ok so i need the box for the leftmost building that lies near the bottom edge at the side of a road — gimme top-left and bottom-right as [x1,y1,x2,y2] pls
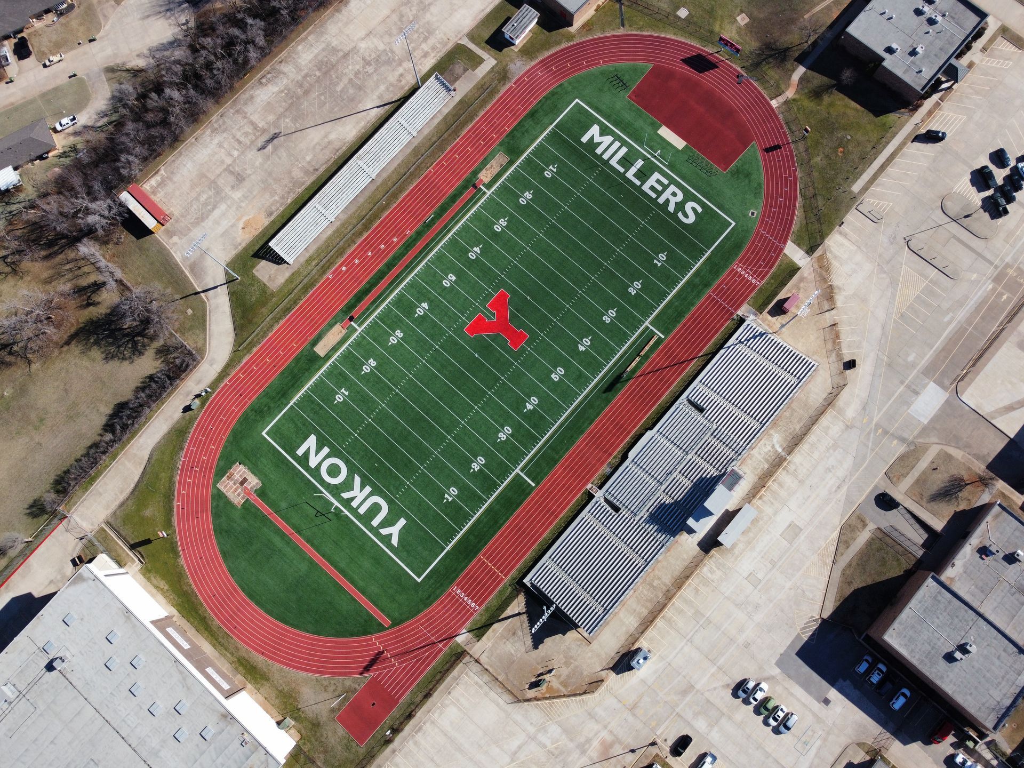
[0,564,297,768]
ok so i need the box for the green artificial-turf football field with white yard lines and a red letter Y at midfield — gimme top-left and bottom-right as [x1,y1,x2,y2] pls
[211,63,764,637]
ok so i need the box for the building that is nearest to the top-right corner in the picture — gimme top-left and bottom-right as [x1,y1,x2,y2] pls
[836,0,988,105]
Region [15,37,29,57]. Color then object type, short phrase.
black car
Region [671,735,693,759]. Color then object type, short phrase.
black car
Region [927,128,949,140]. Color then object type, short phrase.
black vehicle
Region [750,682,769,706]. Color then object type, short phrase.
white car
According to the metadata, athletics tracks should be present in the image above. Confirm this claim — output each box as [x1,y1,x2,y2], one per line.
[175,33,799,747]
